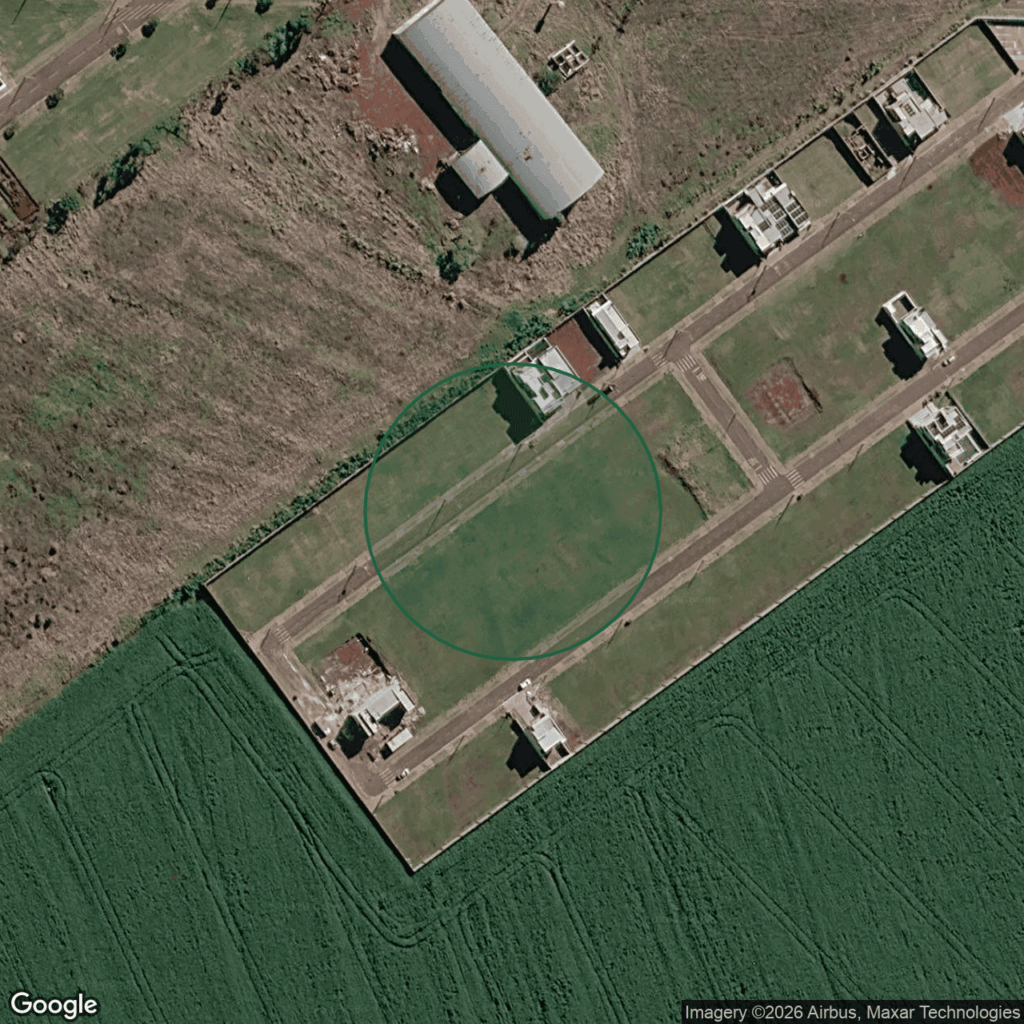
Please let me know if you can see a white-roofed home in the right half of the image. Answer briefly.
Yes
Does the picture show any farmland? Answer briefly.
Yes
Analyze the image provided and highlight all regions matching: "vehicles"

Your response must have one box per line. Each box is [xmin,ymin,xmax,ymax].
[397,769,409,779]
[945,355,957,366]
[604,385,616,395]
[519,678,532,690]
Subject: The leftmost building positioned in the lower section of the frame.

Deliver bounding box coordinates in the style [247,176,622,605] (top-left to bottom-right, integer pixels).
[348,687,414,736]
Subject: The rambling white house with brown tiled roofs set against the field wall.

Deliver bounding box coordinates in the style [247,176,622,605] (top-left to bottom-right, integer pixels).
[909,402,982,476]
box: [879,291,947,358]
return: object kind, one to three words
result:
house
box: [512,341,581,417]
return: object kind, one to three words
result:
house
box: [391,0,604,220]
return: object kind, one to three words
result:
warehouse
